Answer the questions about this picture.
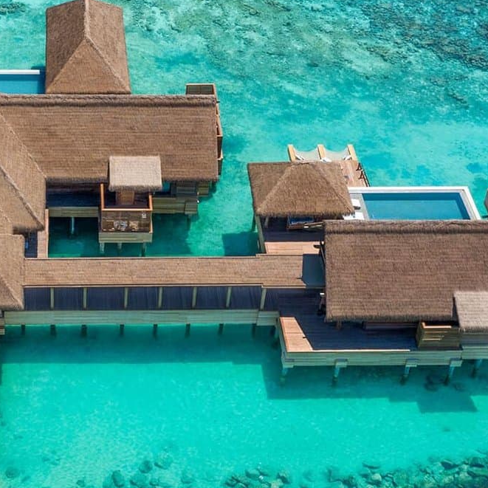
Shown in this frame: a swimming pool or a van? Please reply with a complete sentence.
It is a swimming pool that can be seen here.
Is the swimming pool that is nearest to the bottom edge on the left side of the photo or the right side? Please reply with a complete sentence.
It is on the right.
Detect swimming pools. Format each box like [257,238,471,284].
[0,69,45,93]
[348,186,481,218]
